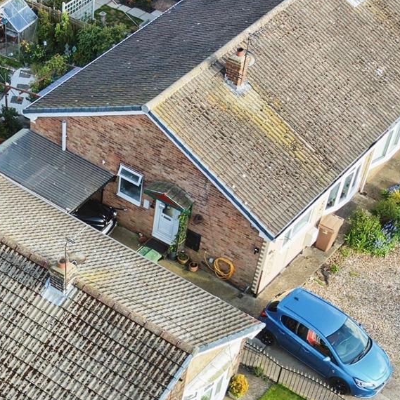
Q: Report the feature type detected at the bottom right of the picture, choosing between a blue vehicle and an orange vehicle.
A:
blue vehicle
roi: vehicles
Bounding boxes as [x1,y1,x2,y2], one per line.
[258,294,390,398]
[70,201,104,231]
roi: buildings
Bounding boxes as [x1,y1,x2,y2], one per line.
[21,0,400,297]
[0,0,42,68]
[0,173,268,400]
